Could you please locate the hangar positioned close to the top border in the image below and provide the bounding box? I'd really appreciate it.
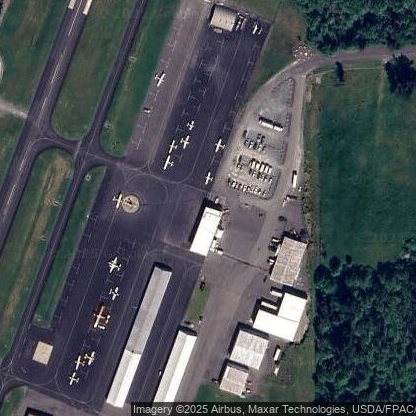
[211,6,239,31]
